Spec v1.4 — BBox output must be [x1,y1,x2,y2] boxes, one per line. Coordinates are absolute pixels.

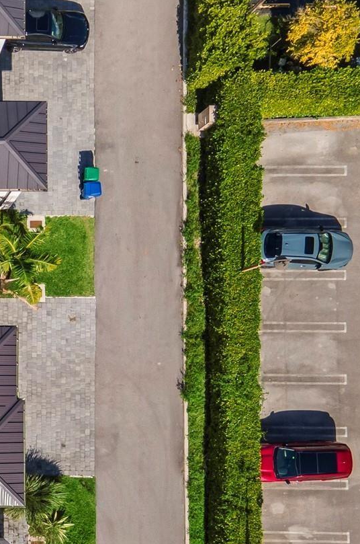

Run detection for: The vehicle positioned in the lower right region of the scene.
[261,439,351,486]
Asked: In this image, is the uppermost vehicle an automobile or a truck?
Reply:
automobile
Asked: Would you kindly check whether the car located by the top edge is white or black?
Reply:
black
